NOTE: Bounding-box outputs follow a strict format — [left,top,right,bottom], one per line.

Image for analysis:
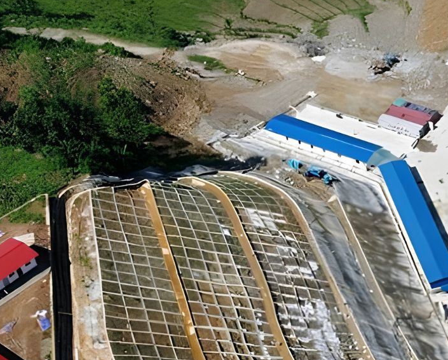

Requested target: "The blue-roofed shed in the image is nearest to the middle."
[263,113,381,170]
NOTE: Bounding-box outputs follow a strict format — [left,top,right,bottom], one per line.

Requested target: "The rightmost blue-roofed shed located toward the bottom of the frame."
[367,143,448,293]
